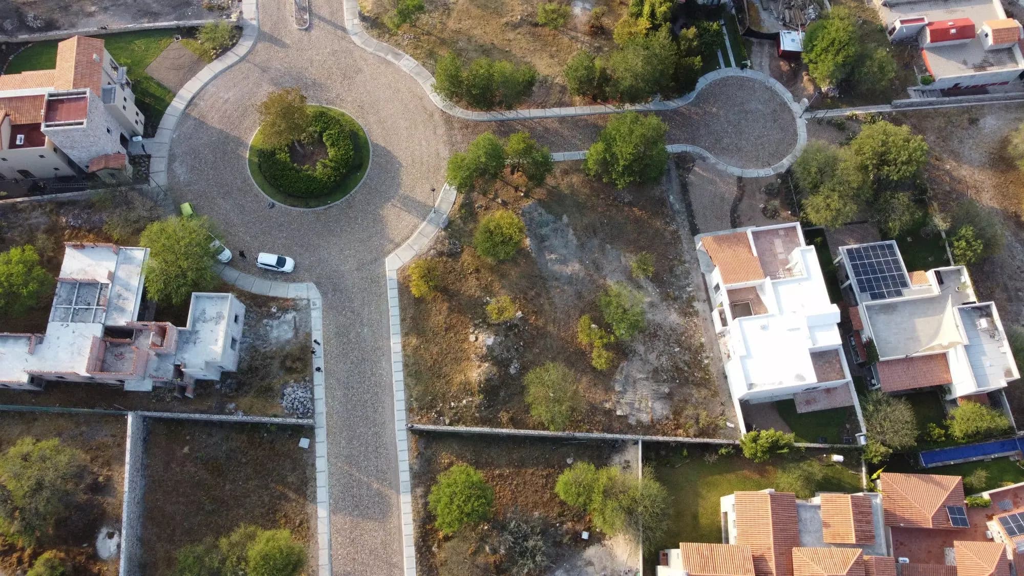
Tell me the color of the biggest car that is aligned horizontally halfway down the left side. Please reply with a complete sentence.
From above, the biggest car that is aligned horizontally halfway down the left side appears white.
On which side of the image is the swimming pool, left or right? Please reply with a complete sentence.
You can find the swimming pool on the right side of the picture.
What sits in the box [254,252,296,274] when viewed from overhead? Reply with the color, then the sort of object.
white car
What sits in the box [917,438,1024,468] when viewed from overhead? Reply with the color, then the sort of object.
blue swimming pool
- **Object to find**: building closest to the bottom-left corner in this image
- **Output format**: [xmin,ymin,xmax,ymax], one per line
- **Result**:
[0,243,244,399]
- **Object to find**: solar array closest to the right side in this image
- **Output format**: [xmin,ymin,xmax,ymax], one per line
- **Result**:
[998,512,1024,536]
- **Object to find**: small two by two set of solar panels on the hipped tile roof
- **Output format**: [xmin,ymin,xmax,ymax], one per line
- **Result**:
[946,506,969,527]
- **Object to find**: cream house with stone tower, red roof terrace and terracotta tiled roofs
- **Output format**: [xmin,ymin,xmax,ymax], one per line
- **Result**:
[0,34,144,183]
